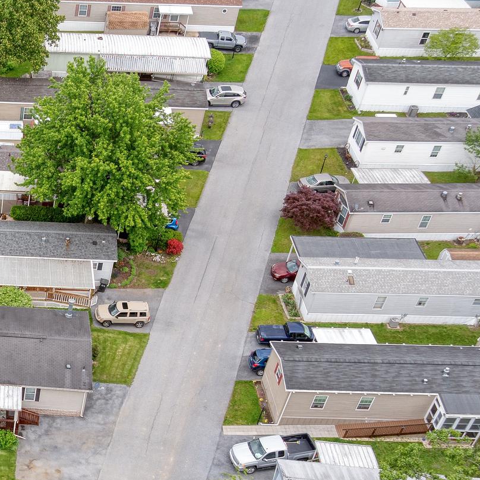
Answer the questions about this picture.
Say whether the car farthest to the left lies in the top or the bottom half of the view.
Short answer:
bottom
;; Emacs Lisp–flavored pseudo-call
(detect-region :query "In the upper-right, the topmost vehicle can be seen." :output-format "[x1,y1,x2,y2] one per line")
[340,14,371,33]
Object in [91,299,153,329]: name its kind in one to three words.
car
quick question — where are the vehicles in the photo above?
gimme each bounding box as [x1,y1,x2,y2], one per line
[206,83,248,108]
[223,431,318,473]
[329,53,383,78]
[163,214,183,236]
[246,317,322,345]
[91,299,153,329]
[236,343,272,375]
[182,145,214,170]
[196,29,251,53]
[340,14,371,33]
[259,258,299,284]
